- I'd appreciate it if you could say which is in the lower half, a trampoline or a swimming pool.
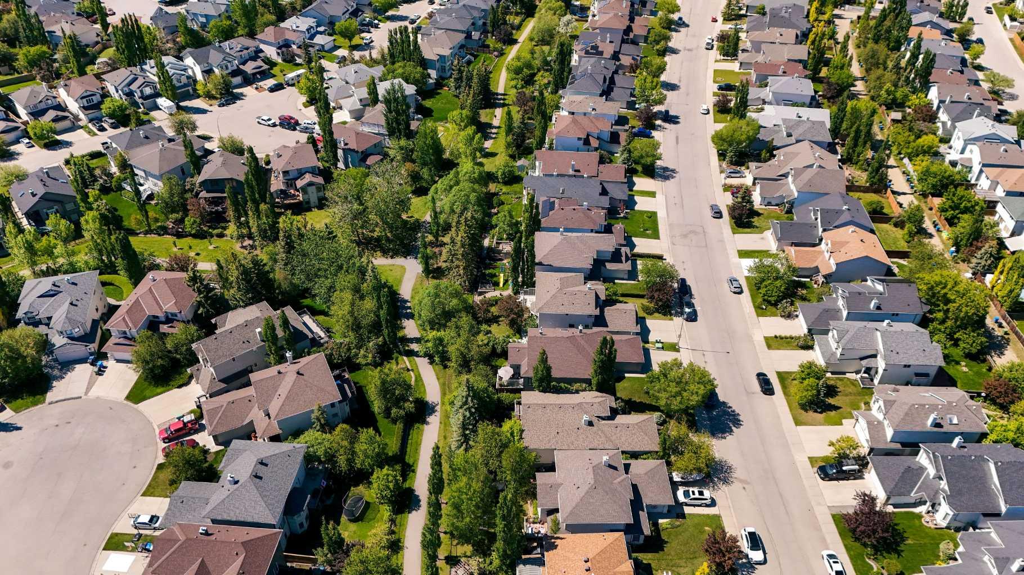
trampoline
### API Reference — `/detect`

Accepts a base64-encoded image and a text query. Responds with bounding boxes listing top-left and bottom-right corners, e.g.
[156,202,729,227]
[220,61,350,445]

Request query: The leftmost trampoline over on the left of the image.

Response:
[337,487,367,520]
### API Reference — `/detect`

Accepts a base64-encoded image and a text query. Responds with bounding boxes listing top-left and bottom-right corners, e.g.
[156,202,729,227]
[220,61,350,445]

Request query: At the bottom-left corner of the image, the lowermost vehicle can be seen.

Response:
[125,513,161,531]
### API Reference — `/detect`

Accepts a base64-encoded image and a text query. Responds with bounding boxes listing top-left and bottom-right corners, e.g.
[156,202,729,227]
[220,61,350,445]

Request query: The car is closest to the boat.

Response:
[676,487,714,506]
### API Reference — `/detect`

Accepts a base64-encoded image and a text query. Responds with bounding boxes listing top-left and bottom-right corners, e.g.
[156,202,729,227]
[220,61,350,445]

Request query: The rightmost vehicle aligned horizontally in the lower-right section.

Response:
[819,461,859,479]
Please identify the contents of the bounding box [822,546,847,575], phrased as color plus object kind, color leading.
white car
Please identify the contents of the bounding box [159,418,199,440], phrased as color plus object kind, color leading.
red truck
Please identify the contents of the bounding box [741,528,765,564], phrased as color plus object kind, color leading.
white car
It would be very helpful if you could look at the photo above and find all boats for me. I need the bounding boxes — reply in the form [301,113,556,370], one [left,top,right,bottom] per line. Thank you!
[668,465,714,484]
